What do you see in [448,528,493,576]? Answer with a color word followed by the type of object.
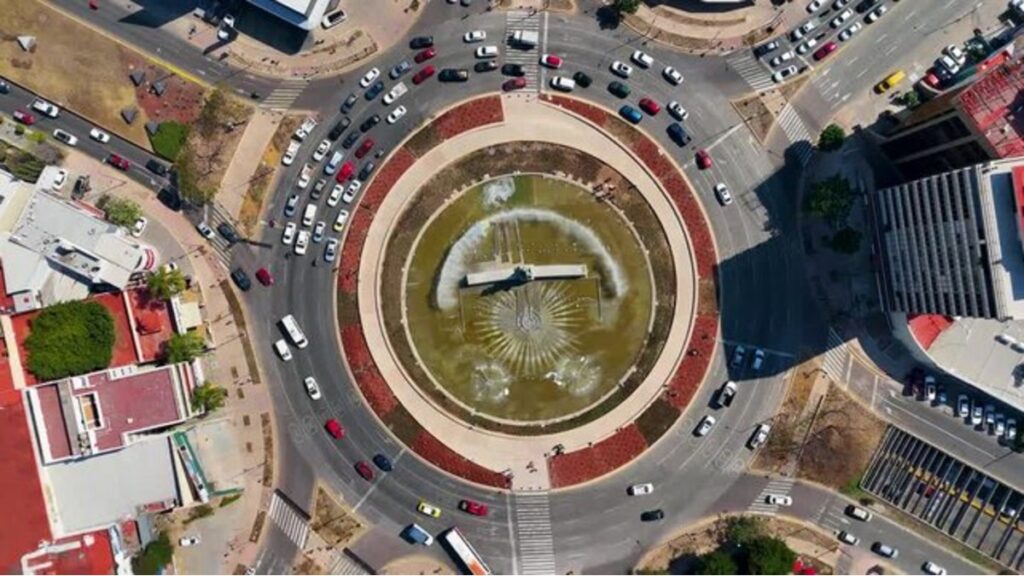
white bus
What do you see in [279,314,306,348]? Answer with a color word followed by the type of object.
white vehicle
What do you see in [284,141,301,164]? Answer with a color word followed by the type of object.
white car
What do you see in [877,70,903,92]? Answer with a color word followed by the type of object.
yellow truck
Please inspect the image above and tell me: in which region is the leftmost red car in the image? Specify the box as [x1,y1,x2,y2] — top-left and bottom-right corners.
[12,108,36,126]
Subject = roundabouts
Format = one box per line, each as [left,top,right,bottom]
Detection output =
[264,29,791,554]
